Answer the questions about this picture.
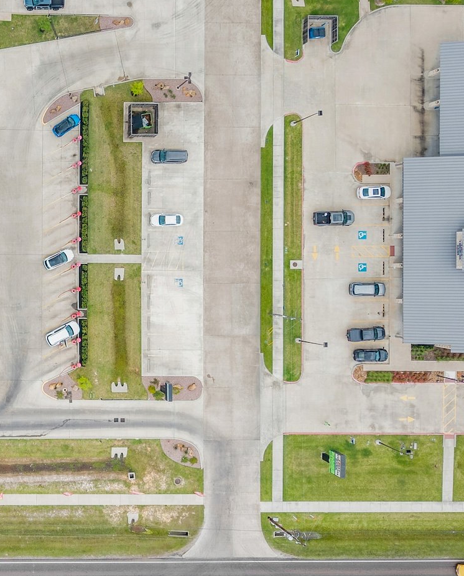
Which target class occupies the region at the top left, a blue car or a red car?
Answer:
blue car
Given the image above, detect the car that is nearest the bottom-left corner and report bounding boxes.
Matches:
[45,321,80,346]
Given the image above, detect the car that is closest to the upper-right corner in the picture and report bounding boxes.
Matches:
[356,183,391,199]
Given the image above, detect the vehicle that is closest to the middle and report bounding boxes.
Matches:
[150,212,183,227]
